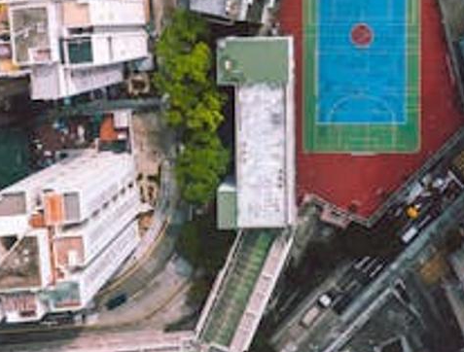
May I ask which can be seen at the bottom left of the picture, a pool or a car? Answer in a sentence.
It is a car that can be seen at the bottom left of the picture.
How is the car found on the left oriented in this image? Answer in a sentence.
I'd say the car found on the left is aligned on a diagonal in the picture.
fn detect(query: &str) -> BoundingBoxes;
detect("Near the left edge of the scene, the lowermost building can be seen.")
[0,153,152,322]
